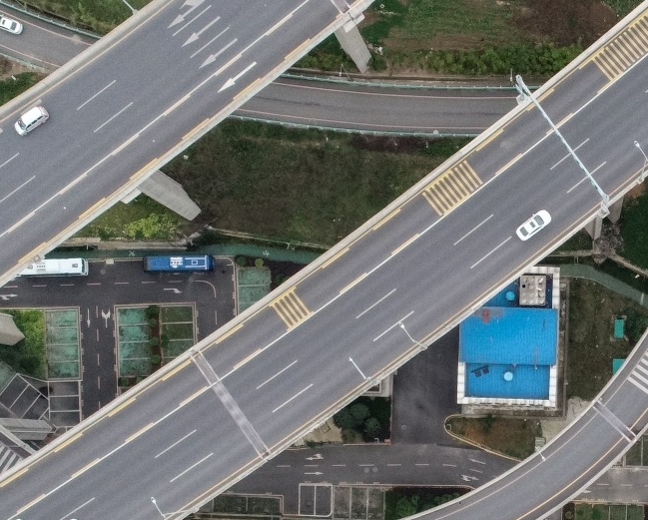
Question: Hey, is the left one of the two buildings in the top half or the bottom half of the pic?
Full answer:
The bottom half of the photo is where the left one of the two buildings is.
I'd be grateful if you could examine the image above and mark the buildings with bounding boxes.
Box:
[458,265,560,407]
[358,370,397,397]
